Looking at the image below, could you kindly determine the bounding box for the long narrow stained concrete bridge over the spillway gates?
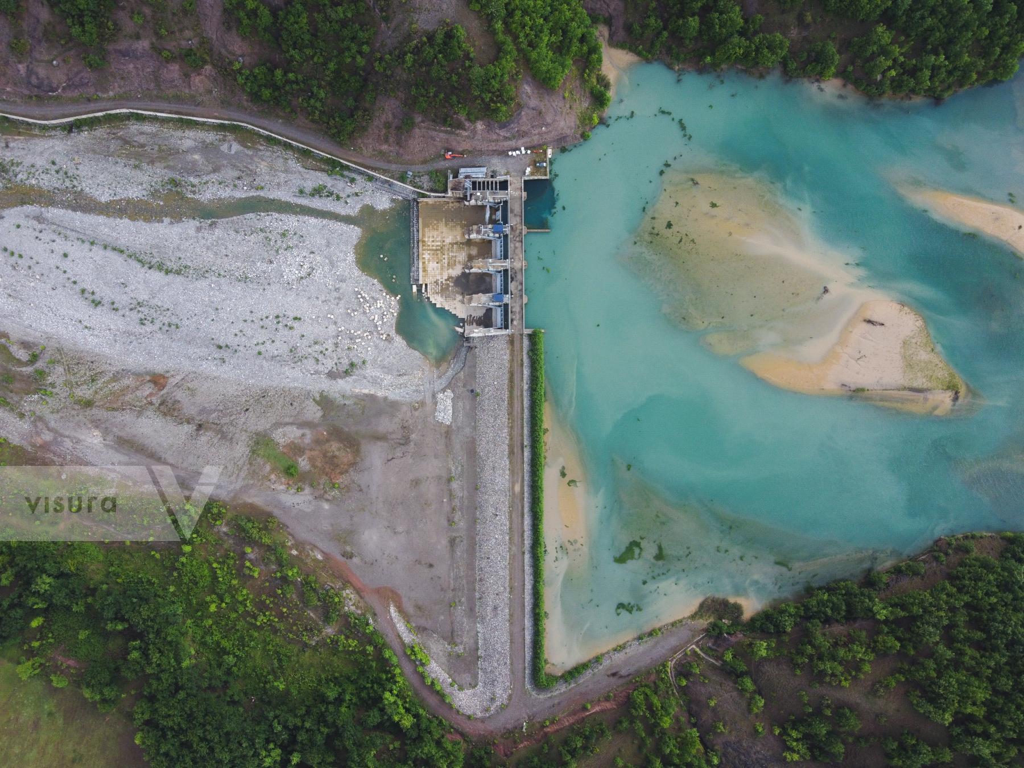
[508,176,524,334]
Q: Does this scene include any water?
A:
Yes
